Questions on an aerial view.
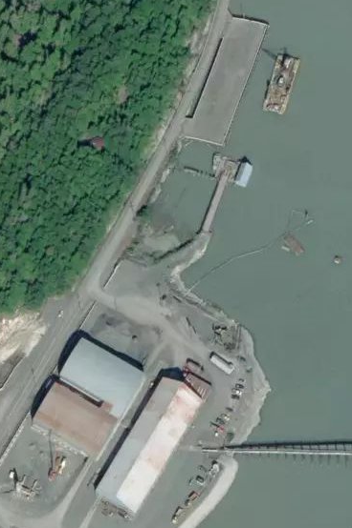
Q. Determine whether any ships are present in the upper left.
No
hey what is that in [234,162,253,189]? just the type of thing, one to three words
shed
